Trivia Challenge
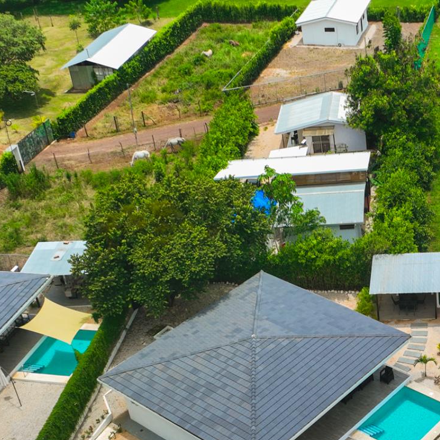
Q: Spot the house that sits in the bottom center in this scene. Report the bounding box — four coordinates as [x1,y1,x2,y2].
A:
[98,270,413,440]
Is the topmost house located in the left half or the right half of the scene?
right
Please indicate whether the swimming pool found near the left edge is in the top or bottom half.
bottom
